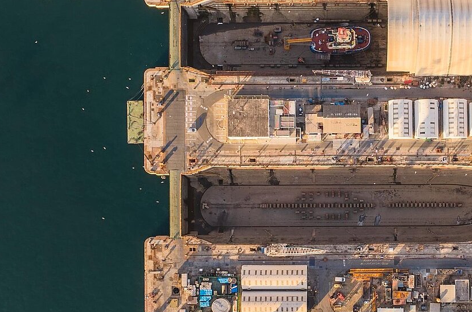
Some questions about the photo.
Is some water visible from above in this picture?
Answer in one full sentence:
Yes, there's water in this view.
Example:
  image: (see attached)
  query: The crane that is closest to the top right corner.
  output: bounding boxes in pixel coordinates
[313,69,378,87]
